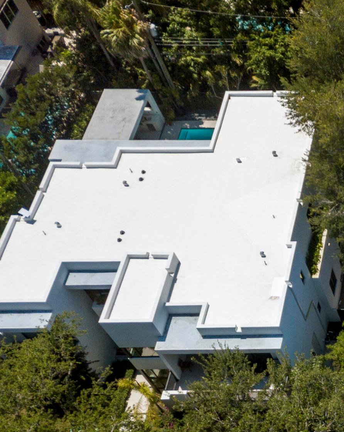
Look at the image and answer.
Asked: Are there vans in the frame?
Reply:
No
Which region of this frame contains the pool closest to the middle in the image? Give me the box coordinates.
[174,126,217,141]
